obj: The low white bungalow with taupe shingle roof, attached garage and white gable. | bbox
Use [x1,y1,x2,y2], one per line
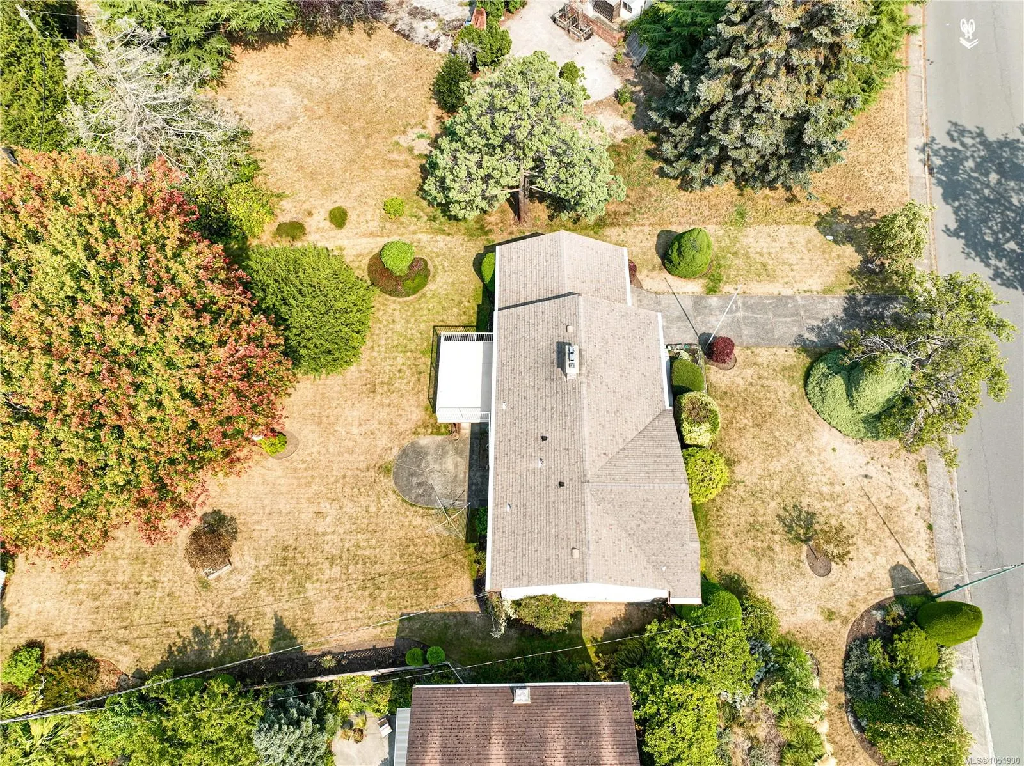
[484,231,702,612]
